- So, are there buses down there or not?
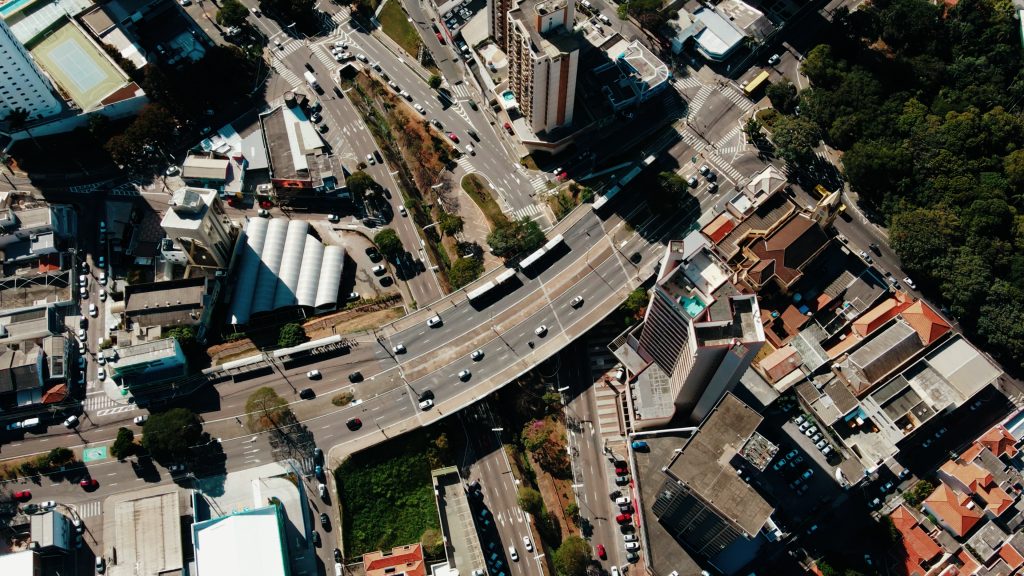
Yes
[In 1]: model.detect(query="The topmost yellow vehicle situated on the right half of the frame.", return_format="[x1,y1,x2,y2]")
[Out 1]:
[741,72,770,99]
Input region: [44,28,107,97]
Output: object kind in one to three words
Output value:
tennis court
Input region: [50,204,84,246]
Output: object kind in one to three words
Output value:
building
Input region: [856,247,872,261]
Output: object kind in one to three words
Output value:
car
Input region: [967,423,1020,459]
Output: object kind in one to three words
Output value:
house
